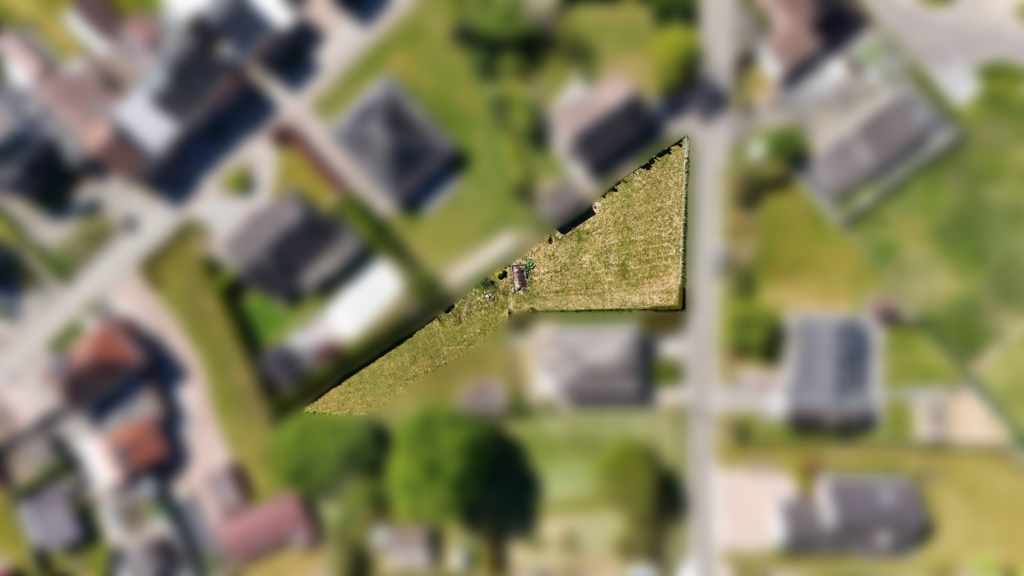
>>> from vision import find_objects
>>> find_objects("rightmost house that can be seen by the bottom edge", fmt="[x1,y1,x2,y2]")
[823,471,931,552]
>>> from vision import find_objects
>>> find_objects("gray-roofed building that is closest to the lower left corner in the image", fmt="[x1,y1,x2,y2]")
[18,482,92,553]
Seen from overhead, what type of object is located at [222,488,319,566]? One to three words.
barn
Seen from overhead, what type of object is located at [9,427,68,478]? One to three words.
shed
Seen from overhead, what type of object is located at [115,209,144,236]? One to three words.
car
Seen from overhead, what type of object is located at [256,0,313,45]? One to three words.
building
